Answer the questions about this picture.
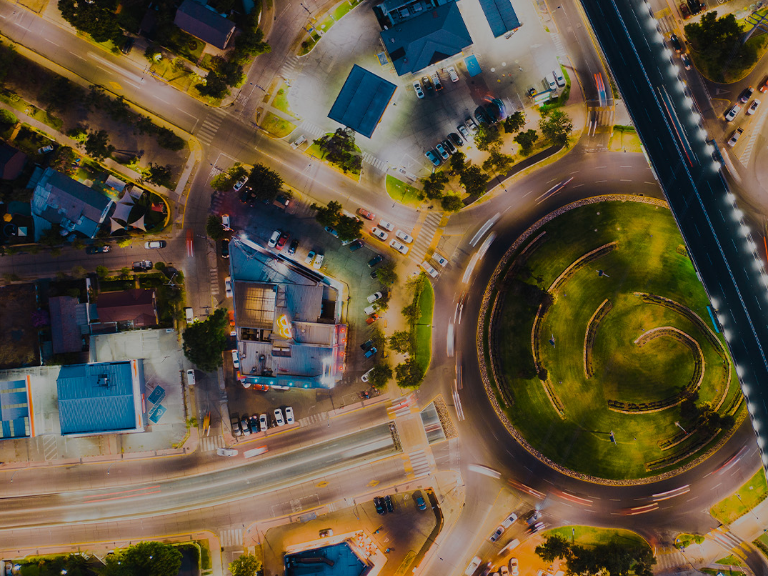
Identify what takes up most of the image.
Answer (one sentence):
The scene is dominated by paved ground.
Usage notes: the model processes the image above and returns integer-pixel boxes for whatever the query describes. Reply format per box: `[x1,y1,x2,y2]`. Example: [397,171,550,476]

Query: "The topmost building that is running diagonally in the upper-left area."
[174,0,234,52]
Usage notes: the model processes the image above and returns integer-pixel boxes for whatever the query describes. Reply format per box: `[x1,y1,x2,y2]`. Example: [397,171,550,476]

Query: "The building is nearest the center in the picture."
[229,236,348,388]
